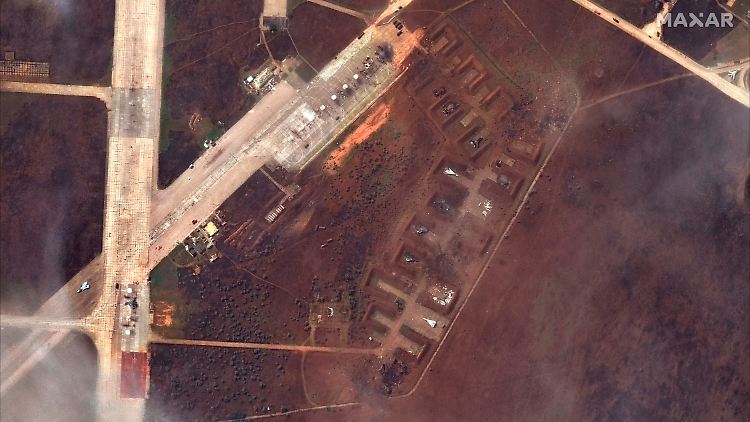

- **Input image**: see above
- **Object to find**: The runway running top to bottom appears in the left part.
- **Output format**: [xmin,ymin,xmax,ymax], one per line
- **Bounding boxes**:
[96,0,166,422]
